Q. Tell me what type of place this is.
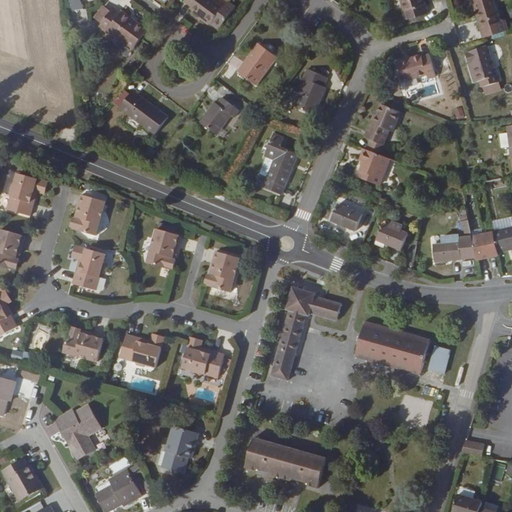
residential area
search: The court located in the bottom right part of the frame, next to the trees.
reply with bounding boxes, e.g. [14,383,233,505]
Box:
[402,394,434,426]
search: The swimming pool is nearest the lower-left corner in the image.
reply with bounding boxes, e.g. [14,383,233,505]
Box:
[130,376,157,392]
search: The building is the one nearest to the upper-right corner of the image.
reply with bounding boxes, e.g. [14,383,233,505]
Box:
[472,0,506,37]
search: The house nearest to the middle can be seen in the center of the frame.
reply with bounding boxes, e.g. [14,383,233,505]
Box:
[204,251,238,291]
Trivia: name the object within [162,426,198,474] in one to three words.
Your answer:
house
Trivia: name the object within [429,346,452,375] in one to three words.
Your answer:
shed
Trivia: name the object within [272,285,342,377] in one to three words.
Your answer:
building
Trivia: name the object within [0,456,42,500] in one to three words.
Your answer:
house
